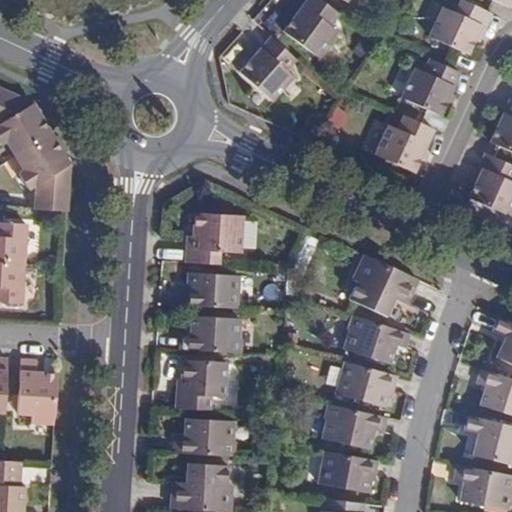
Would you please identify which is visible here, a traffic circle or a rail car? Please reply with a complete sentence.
This aerial view contains a traffic circle.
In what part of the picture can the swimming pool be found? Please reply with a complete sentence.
Look in the center portion of the view to spot the swimming pool.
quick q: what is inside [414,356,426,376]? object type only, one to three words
vehicle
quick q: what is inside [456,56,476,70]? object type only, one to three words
car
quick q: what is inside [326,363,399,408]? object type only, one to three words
house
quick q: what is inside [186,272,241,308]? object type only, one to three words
house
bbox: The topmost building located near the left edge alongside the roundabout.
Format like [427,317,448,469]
[0,103,71,211]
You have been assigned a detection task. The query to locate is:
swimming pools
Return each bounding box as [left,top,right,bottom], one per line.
[258,282,282,302]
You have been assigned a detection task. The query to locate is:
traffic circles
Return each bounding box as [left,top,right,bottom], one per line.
[107,63,206,167]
